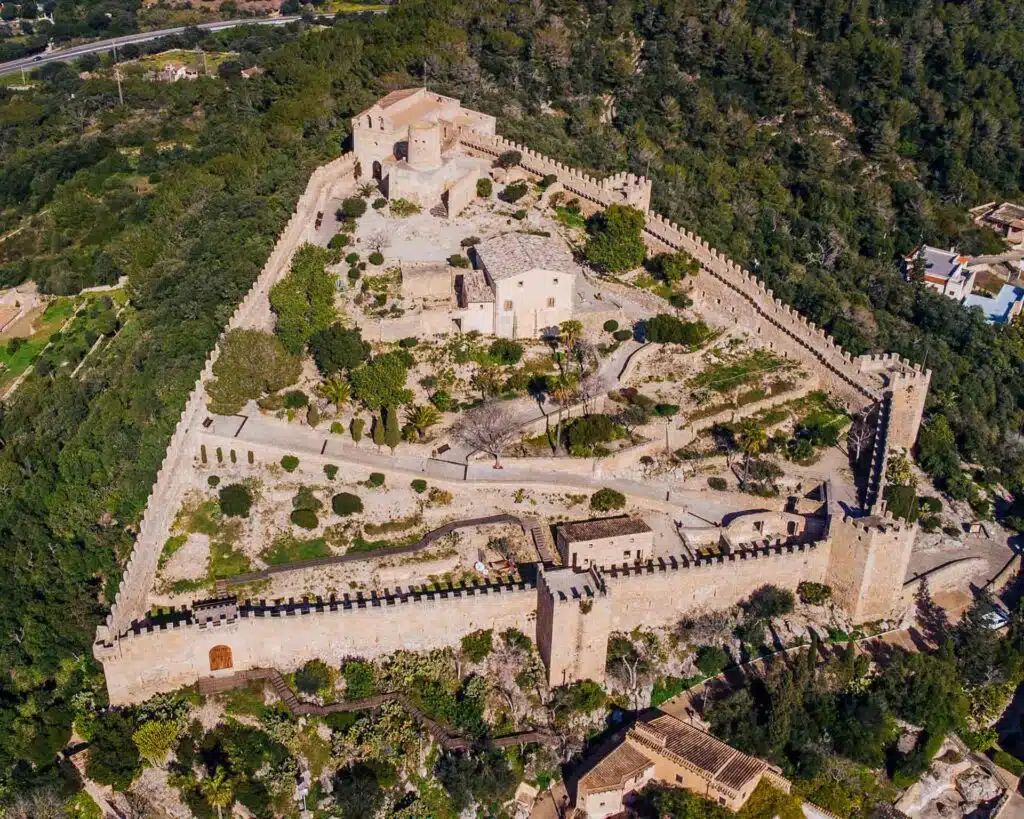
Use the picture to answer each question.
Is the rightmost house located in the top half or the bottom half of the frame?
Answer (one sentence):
The rightmost house is in the top half of the image.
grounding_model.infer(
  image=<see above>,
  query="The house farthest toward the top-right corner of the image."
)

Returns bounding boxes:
[981,201,1024,272]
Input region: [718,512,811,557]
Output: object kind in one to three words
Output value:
building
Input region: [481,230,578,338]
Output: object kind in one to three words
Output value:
house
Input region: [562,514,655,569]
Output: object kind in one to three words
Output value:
house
